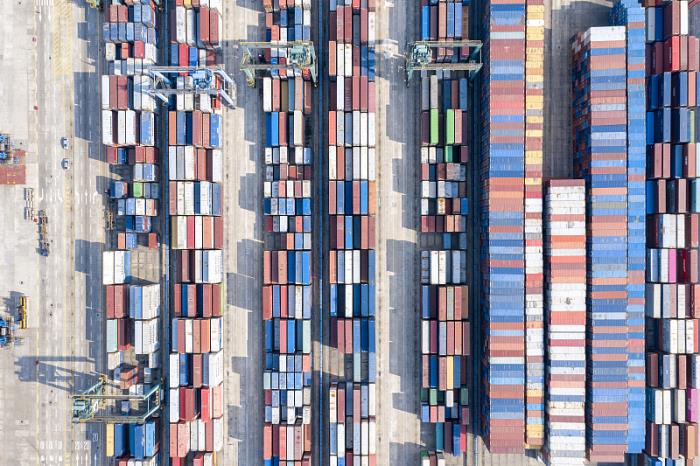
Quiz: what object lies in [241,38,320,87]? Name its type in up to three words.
container crane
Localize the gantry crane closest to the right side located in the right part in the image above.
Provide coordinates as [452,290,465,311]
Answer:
[407,40,488,87]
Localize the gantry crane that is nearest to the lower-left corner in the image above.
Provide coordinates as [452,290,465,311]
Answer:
[73,376,166,423]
